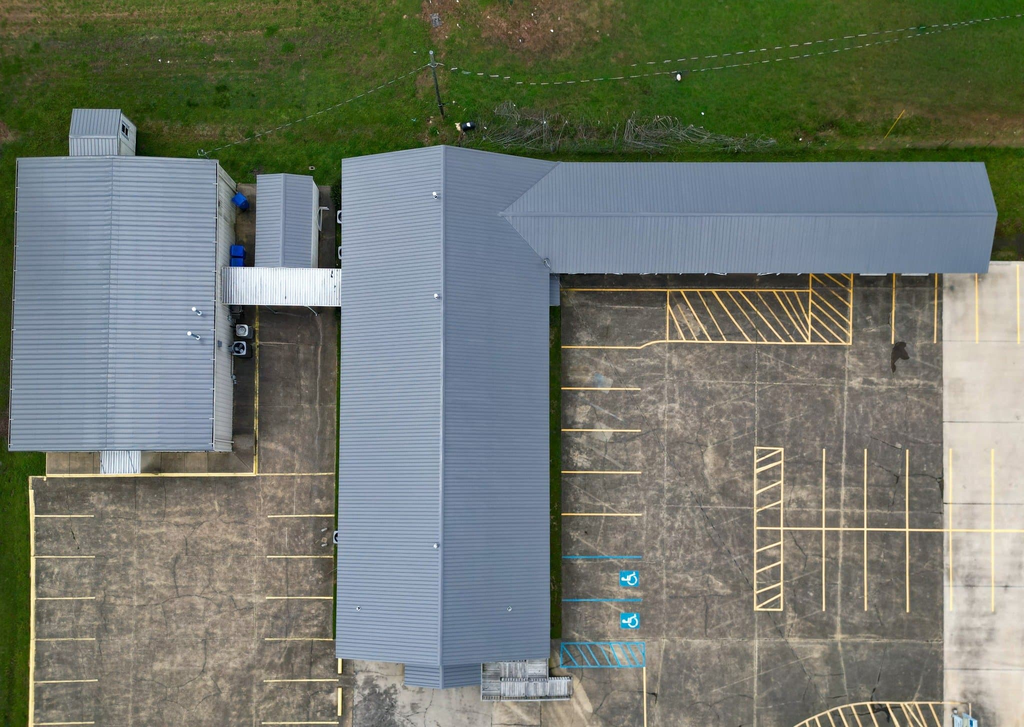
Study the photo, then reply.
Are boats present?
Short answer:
No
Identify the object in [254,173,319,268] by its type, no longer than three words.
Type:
shed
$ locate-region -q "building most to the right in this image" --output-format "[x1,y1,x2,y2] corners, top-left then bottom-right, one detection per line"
[335,144,999,690]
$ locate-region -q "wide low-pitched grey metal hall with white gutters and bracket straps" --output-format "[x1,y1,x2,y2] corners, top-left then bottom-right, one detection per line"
[7,147,237,474]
